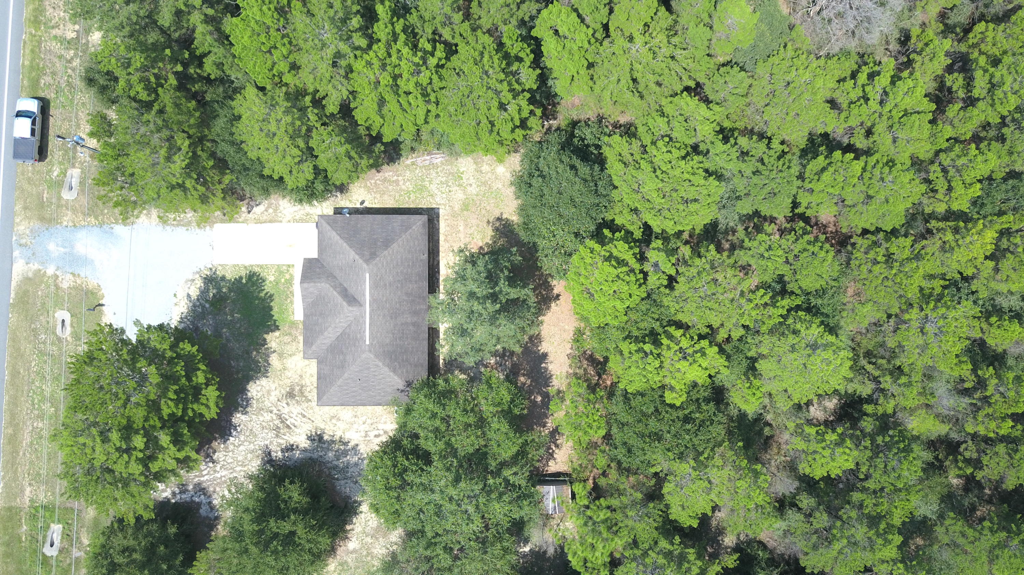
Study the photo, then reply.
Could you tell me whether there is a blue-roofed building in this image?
No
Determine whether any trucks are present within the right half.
No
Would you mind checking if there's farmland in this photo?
No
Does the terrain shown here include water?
No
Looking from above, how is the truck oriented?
vertically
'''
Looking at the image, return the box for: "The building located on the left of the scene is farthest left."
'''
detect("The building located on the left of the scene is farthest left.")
[300,213,429,407]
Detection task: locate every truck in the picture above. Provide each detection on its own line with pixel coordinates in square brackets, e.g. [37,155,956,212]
[11,98,45,166]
